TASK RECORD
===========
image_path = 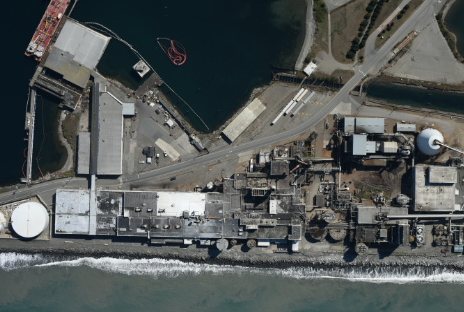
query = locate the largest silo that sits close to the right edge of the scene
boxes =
[415,126,445,156]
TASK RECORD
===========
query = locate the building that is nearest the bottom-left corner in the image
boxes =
[54,213,90,234]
